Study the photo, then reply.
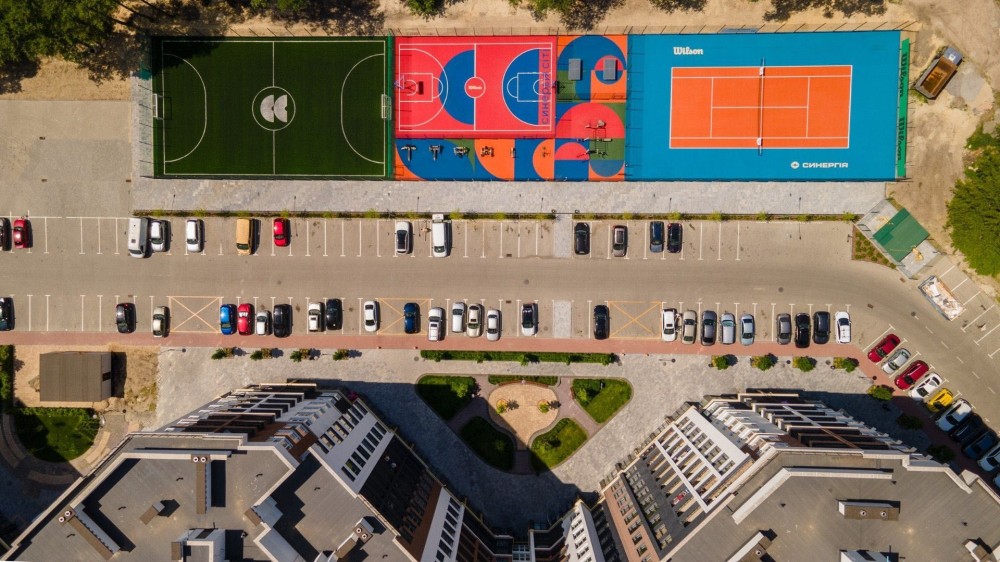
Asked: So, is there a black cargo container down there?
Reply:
No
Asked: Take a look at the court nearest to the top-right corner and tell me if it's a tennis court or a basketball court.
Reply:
tennis court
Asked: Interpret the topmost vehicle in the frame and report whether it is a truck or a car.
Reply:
truck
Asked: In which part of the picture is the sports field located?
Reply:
top left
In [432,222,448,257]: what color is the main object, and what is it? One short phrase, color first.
white vehicle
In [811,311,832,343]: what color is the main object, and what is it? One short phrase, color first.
black car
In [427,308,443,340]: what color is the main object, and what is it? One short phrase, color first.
white car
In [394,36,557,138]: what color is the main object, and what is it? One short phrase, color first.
red basketball court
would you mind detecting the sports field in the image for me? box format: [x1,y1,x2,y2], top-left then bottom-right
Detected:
[152,36,392,180]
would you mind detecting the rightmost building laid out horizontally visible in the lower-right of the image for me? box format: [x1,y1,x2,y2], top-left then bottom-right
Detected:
[588,389,1000,562]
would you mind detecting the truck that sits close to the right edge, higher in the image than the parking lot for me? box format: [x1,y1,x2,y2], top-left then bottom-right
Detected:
[913,48,963,98]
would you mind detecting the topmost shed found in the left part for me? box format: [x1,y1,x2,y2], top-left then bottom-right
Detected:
[40,352,111,401]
